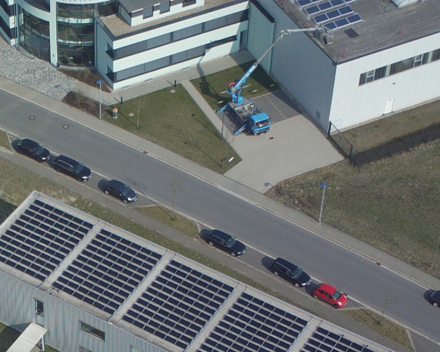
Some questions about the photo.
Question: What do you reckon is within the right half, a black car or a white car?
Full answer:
The feature located within the right half is a black car.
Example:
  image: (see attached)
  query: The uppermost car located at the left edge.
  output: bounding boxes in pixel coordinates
[12,138,52,165]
